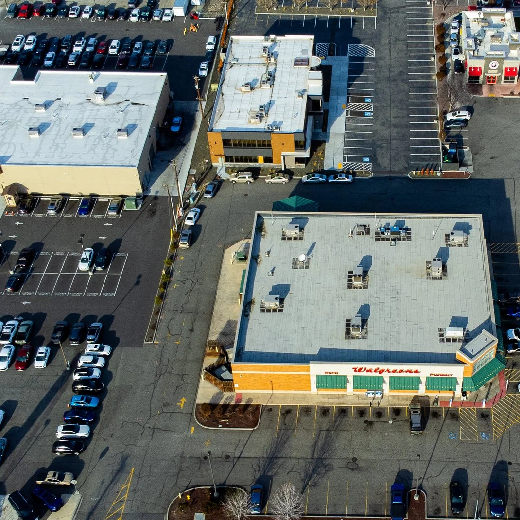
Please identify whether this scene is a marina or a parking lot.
parking lot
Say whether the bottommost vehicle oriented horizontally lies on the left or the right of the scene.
left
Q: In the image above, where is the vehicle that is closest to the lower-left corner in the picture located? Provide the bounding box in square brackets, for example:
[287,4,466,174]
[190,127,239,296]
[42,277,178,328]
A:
[11,492,37,520]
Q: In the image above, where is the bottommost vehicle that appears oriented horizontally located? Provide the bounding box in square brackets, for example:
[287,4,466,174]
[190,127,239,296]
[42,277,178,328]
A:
[32,469,78,489]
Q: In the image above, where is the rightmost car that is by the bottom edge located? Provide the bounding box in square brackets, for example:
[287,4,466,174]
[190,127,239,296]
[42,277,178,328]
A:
[488,484,505,516]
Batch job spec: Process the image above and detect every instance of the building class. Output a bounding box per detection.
[461,5,520,84]
[232,190,507,401]
[0,68,172,198]
[208,34,328,171]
